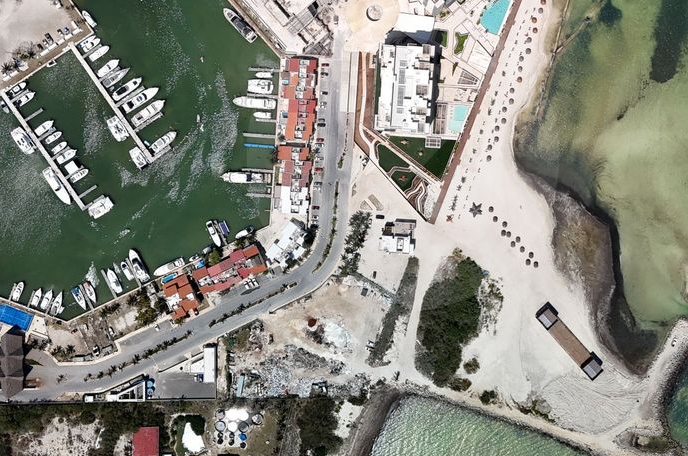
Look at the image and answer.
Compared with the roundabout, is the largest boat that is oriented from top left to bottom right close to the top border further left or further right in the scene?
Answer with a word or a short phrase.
to the left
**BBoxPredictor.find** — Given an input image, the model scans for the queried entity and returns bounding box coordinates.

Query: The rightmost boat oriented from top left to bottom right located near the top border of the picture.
[223,8,258,45]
